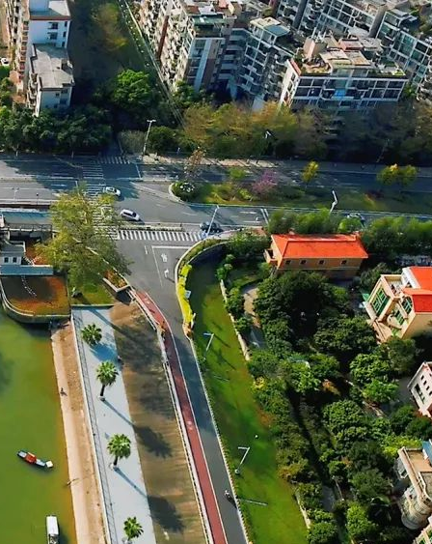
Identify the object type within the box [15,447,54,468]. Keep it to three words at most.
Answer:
boat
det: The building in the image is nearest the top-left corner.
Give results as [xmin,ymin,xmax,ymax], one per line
[11,0,74,131]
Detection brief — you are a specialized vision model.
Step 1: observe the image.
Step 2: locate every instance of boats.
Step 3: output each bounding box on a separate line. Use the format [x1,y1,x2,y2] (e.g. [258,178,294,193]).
[47,510,60,544]
[15,447,54,468]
